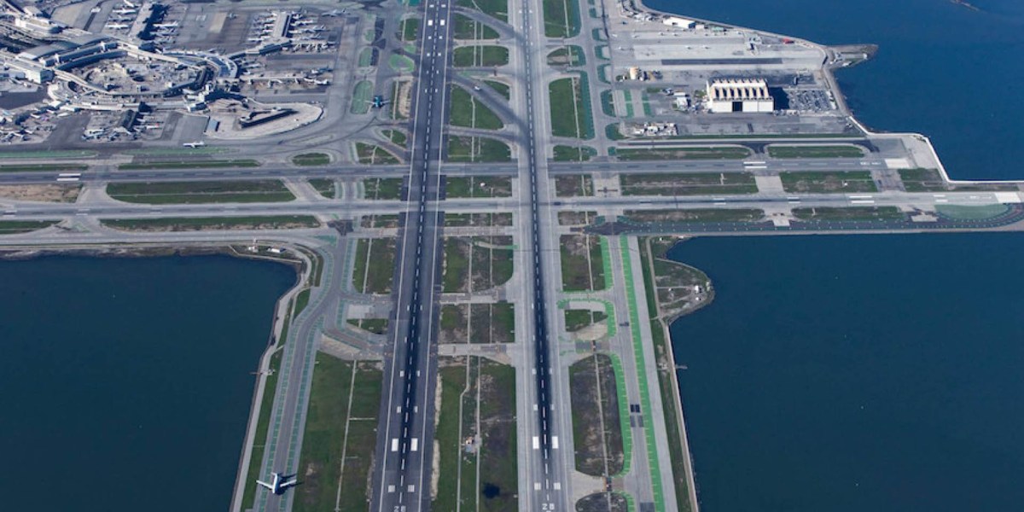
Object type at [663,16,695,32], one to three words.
shed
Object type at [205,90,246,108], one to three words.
building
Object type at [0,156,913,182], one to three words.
runway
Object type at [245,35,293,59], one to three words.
building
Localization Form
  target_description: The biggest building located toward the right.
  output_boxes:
[701,79,774,112]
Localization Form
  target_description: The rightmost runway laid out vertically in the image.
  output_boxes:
[507,0,579,512]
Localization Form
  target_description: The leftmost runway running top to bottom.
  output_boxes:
[369,0,456,512]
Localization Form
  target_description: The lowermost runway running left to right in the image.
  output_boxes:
[0,189,1024,220]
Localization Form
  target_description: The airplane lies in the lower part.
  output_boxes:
[255,471,295,493]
